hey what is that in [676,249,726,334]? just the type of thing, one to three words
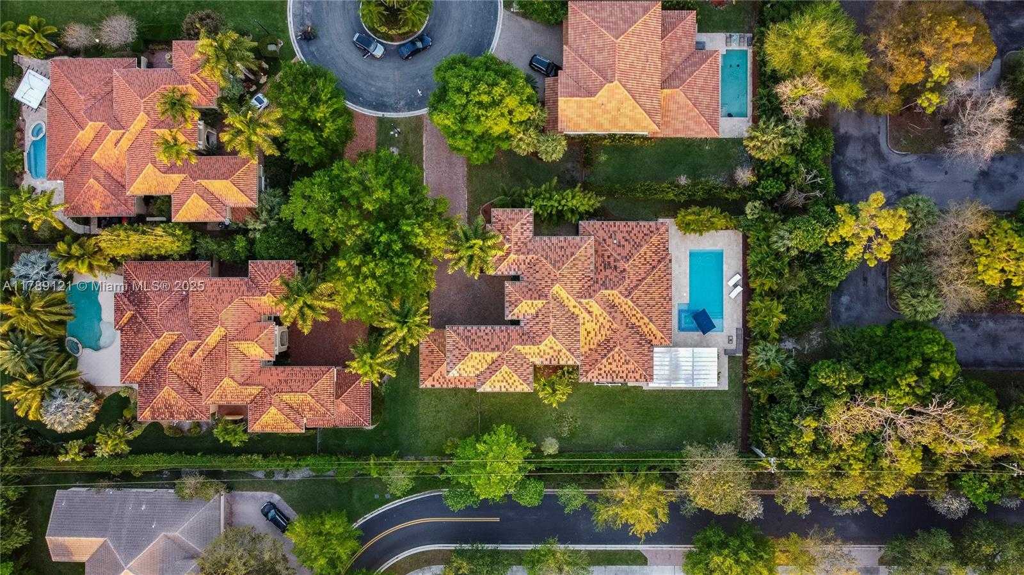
swimming pool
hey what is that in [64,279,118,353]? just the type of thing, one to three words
swimming pool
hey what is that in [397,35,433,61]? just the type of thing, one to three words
car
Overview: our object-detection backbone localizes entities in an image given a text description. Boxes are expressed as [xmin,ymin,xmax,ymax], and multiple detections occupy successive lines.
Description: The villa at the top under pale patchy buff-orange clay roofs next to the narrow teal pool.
[545,0,720,138]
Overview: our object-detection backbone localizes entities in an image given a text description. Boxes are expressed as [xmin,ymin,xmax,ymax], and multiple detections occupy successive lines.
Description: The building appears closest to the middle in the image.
[419,208,673,393]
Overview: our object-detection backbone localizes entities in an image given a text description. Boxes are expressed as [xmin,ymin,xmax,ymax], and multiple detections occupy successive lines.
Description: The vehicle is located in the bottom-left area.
[262,500,293,534]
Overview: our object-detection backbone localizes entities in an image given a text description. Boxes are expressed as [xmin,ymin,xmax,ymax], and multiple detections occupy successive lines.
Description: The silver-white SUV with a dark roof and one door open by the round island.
[352,34,386,62]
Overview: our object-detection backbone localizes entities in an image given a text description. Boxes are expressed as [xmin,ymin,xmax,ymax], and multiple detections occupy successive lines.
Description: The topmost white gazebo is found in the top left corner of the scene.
[14,67,49,111]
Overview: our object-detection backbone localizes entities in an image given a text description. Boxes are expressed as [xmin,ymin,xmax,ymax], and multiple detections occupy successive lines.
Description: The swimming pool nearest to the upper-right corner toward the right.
[720,47,750,118]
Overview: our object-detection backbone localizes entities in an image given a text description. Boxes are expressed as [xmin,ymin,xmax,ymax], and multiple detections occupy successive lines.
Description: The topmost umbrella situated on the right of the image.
[692,308,716,335]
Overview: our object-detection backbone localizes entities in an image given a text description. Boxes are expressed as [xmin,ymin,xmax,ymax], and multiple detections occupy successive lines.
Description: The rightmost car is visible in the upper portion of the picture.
[528,54,562,77]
